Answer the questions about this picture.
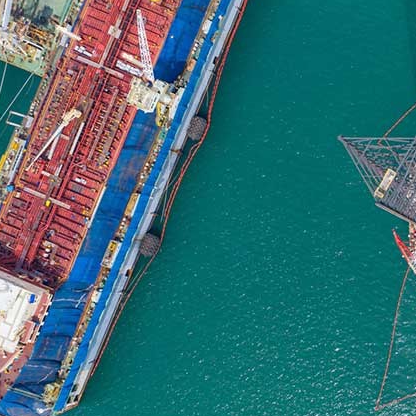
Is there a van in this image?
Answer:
No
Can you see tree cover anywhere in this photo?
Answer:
No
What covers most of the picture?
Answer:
water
